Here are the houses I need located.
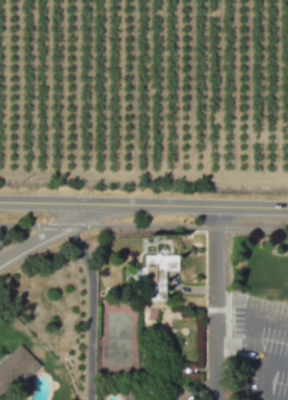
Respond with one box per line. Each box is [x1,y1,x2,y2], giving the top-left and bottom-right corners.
[136,252,180,303]
[0,346,42,396]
